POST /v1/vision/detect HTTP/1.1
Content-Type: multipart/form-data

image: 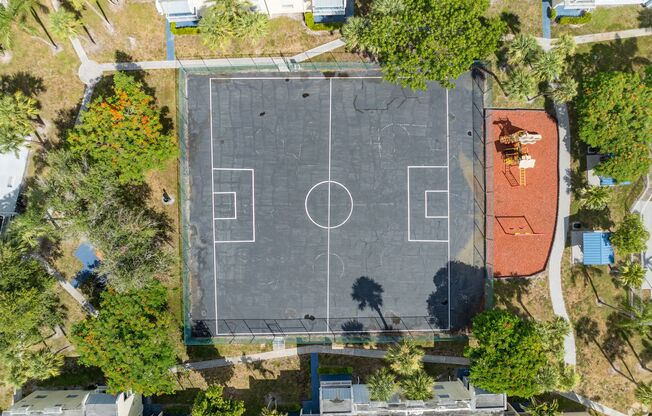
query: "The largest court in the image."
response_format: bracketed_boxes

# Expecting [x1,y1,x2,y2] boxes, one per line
[187,71,487,338]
